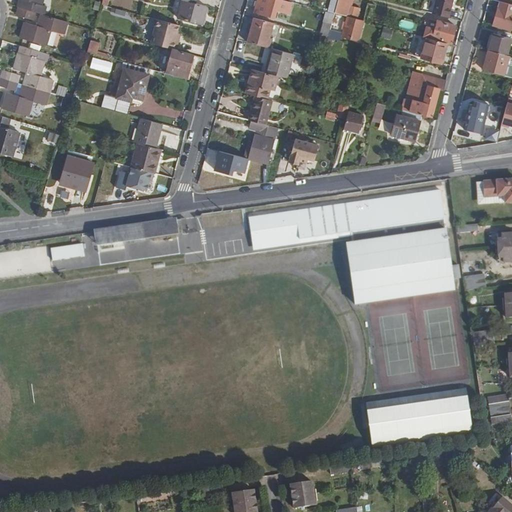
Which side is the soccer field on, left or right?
left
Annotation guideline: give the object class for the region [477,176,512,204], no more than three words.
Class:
house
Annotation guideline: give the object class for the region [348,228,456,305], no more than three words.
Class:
building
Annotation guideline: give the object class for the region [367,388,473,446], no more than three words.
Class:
building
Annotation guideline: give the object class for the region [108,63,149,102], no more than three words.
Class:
house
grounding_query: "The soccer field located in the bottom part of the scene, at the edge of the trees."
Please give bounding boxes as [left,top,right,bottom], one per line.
[0,273,348,474]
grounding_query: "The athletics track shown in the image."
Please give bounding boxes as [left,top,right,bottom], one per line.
[0,244,366,489]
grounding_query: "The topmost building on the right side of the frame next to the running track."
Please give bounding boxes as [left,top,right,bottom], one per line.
[249,190,444,249]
